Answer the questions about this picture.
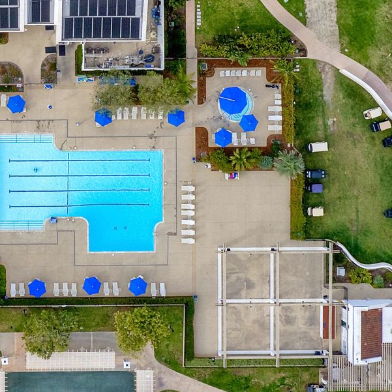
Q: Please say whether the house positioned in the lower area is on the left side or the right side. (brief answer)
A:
right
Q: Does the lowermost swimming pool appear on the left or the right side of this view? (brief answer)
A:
left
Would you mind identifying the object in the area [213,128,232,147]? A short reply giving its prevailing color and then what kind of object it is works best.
blue umbrella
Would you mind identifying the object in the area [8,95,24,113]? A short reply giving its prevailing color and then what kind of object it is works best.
blue umbrella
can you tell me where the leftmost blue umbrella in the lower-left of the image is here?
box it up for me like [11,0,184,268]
[29,279,47,297]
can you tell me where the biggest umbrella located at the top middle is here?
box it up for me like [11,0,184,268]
[219,88,246,116]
